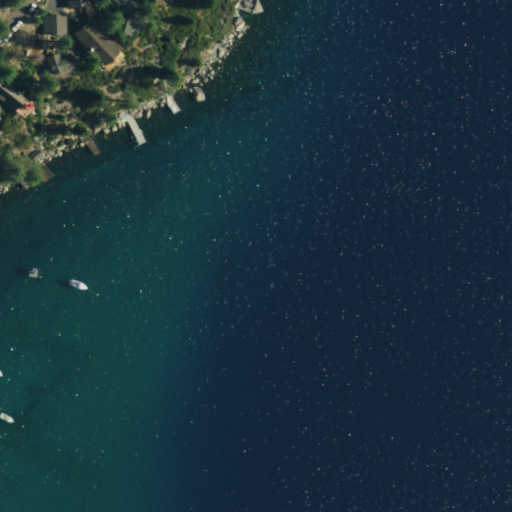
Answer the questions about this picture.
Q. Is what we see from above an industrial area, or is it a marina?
marina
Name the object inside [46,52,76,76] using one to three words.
house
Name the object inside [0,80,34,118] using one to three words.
house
